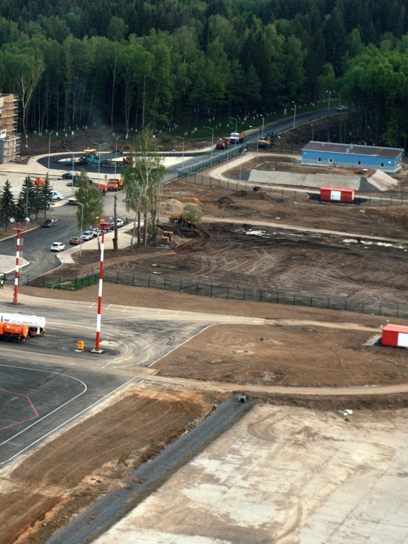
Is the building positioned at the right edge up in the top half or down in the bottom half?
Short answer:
top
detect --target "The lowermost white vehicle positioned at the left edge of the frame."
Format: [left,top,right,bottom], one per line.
[0,313,47,338]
